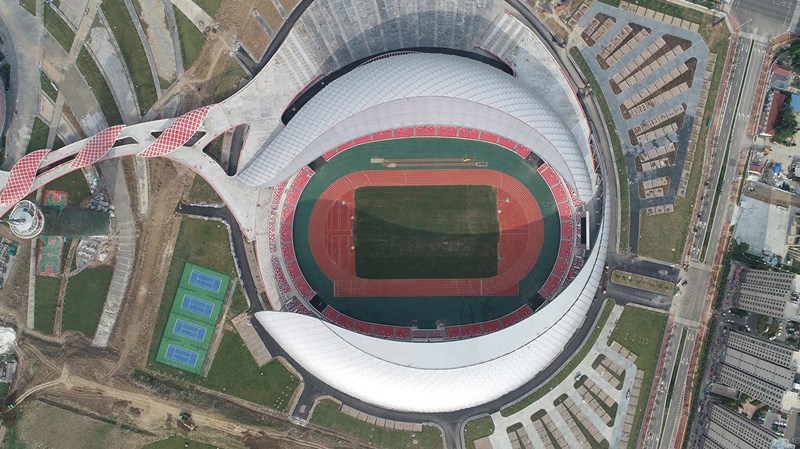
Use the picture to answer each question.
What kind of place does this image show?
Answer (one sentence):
What you see here is a sports ground.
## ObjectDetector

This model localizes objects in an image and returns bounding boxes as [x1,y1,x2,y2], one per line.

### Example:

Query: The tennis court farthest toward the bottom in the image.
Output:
[156,337,208,376]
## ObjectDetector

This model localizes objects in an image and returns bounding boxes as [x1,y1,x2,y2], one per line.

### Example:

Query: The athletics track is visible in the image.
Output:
[294,137,559,326]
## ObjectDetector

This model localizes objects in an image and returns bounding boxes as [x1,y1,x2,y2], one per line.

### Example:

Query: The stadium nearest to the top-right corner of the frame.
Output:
[199,0,612,415]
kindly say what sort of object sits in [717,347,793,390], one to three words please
building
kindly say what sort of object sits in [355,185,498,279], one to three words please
sports field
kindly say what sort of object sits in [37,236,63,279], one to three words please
basketball court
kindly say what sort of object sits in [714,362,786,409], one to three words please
building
